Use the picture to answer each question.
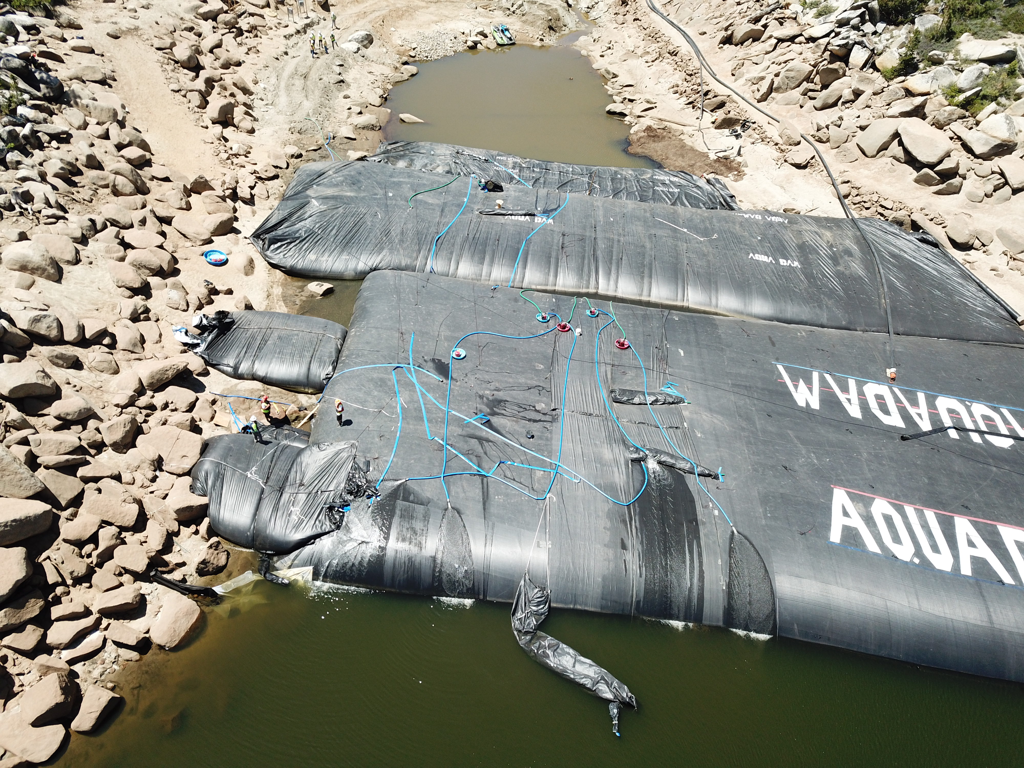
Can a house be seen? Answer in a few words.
No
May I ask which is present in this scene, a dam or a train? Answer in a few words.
dam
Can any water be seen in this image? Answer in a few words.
Yes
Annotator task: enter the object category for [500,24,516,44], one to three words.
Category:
boat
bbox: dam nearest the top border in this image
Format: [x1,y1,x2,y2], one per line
[368,136,739,216]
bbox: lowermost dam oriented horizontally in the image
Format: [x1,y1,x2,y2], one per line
[274,270,1024,684]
